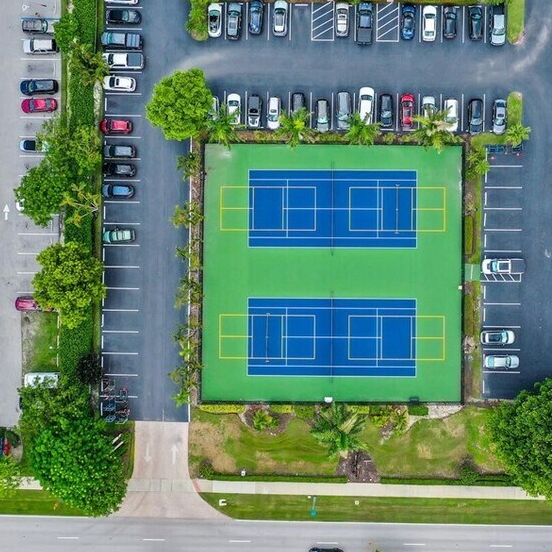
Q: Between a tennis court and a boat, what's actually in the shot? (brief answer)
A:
tennis court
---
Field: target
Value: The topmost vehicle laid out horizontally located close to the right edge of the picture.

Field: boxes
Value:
[481,257,526,275]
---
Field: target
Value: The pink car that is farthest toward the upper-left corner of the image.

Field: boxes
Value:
[22,96,59,113]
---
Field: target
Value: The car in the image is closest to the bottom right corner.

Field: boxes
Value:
[483,354,519,371]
